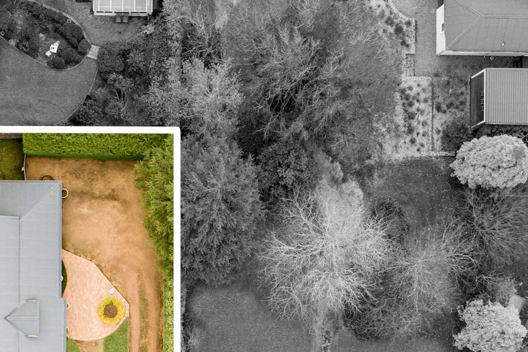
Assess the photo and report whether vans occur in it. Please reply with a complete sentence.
No, the frame has no van in it.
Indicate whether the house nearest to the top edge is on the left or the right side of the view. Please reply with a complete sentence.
The house nearest to the top edge is on the right side of the image.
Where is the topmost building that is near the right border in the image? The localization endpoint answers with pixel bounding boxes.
[430,0,528,59]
